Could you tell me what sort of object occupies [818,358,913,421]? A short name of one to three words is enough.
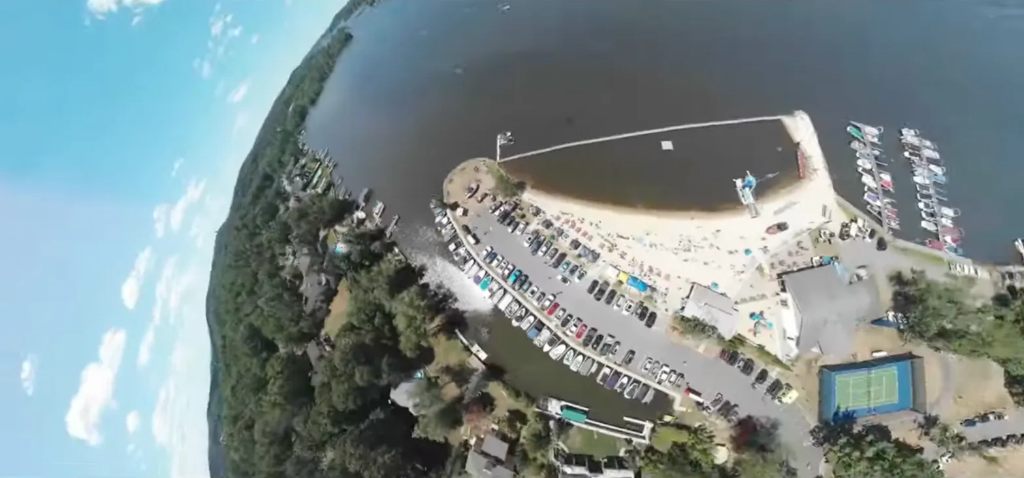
tennis court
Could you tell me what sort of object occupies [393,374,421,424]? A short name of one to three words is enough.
house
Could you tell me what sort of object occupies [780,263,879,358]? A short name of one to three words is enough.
building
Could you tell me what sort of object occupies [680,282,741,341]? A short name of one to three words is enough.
building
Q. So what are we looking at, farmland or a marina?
marina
